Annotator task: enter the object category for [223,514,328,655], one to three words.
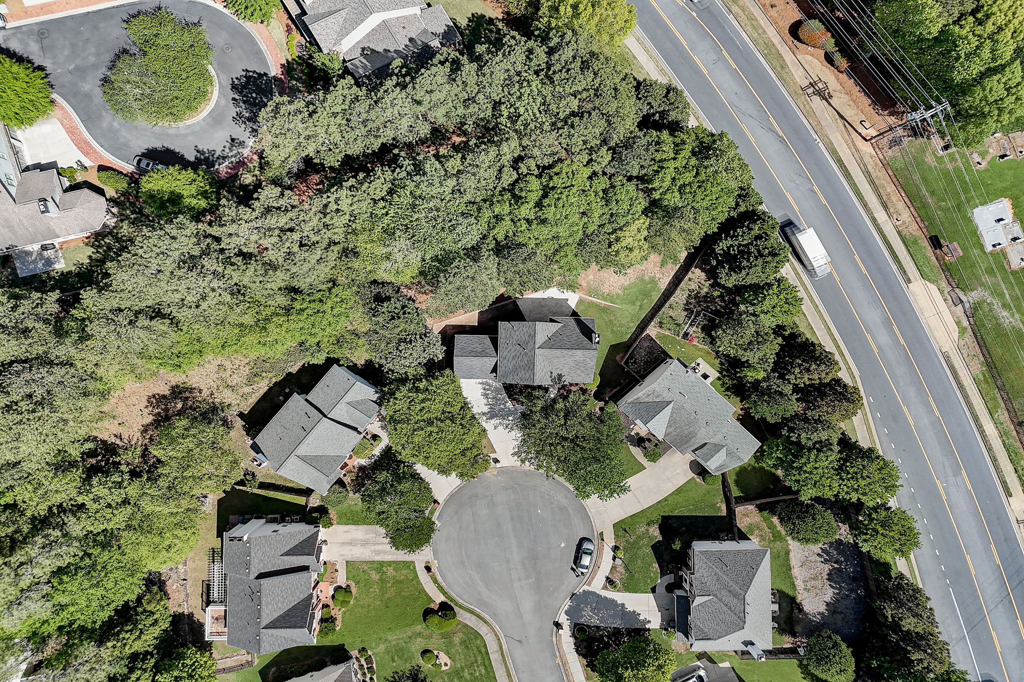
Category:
house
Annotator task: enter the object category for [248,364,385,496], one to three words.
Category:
house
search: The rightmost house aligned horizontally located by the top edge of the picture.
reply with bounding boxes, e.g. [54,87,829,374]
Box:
[291,0,462,83]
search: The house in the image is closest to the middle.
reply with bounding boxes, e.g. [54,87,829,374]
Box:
[454,317,603,385]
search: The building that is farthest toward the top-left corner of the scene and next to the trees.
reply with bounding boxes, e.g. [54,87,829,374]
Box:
[0,116,119,257]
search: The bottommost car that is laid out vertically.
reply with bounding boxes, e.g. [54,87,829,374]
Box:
[575,537,595,578]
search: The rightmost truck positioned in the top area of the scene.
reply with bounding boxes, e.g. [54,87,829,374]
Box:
[791,220,828,283]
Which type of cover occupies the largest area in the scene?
trees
